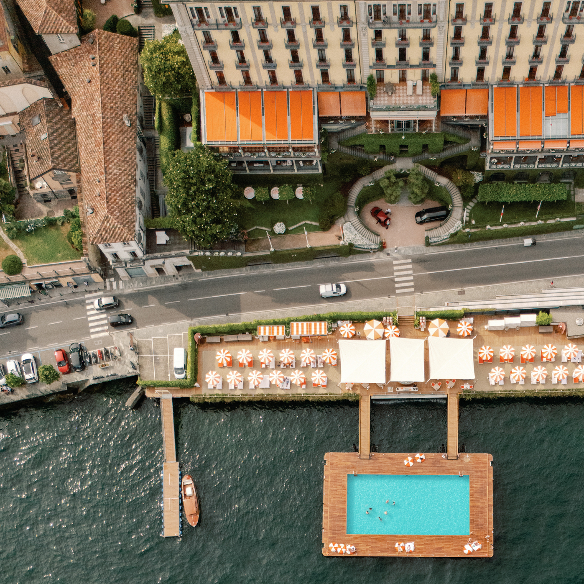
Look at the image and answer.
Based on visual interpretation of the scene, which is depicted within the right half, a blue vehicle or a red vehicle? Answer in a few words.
red vehicle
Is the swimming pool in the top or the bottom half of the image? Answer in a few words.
bottom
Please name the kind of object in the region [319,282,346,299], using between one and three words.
vehicle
